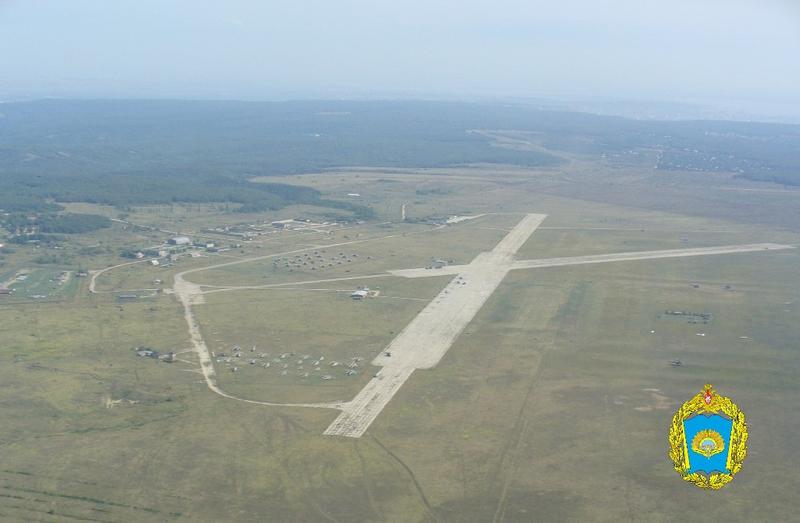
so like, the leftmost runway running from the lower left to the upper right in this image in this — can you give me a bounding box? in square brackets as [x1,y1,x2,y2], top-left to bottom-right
[372,213,546,368]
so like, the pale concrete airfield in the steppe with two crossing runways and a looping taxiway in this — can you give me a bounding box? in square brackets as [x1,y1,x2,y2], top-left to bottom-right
[162,213,796,438]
